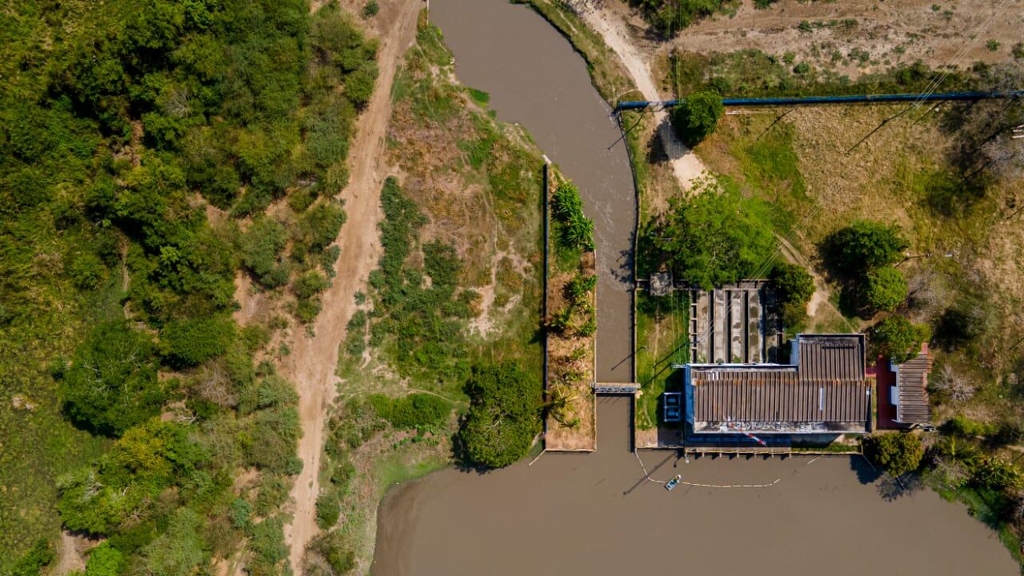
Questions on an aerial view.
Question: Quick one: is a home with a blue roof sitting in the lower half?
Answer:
No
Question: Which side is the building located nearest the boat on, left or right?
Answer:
right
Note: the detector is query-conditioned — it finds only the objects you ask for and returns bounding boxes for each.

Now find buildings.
[686,332,871,433]
[877,341,932,427]
[648,273,673,295]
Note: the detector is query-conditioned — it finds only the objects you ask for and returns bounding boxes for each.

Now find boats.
[664,475,680,491]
